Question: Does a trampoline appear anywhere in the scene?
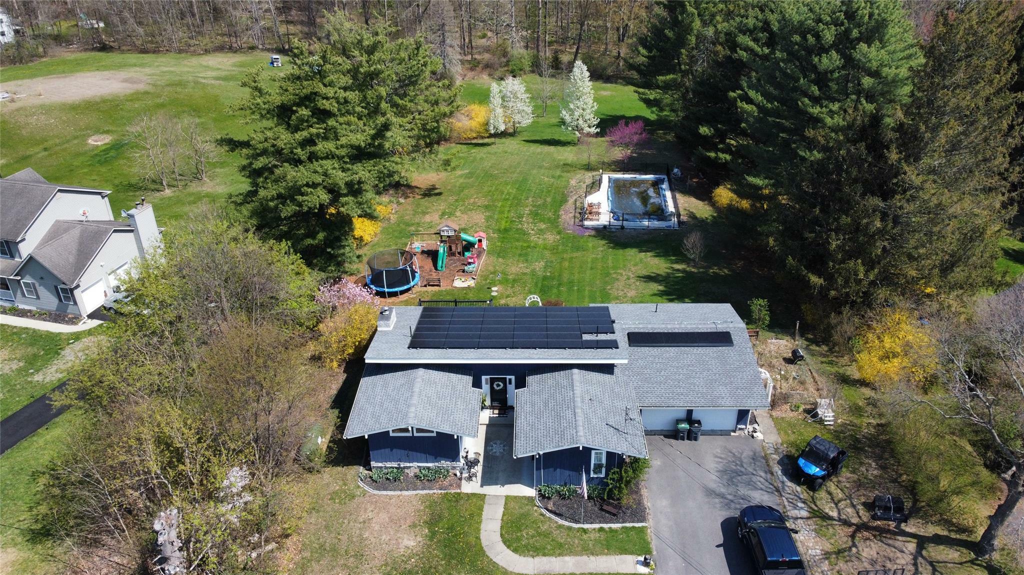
Yes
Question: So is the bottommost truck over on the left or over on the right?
right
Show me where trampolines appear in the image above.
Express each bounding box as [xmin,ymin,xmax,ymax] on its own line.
[360,247,420,304]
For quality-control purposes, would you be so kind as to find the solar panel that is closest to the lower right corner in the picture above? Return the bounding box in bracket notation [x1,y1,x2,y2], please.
[626,329,736,347]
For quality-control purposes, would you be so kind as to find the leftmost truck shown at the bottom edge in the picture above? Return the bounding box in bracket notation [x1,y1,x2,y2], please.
[734,505,805,575]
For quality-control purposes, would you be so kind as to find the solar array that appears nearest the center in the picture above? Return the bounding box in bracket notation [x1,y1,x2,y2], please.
[408,306,618,350]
